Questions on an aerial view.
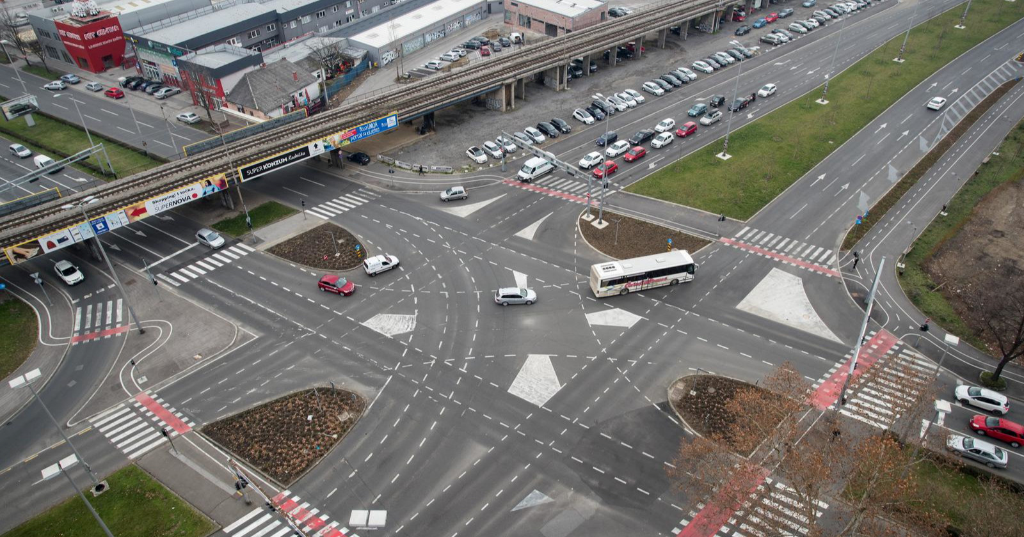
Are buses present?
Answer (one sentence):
Yes, the picture does show a bus.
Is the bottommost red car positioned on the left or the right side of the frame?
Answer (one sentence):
The bottommost red car is on the right side of the image.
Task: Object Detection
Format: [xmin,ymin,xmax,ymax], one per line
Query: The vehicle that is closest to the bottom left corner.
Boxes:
[55,261,82,285]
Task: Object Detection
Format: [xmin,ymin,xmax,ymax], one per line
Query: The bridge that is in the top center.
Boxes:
[0,0,806,265]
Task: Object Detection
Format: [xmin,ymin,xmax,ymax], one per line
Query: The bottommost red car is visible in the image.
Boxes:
[969,417,1024,450]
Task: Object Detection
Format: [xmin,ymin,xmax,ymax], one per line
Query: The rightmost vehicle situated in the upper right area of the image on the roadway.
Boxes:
[924,97,948,111]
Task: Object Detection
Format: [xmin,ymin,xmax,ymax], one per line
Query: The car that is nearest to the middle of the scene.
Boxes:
[495,288,535,306]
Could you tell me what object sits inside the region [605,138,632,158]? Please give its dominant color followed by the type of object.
white car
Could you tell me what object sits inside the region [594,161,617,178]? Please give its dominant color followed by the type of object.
red car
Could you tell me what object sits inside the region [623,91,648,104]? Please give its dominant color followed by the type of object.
white vehicle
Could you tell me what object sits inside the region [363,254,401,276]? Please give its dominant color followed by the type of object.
white vehicle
